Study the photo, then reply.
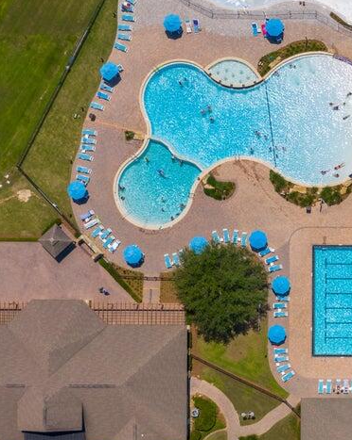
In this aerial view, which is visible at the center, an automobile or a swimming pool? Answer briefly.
swimming pool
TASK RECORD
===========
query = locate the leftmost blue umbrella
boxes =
[68,182,86,200]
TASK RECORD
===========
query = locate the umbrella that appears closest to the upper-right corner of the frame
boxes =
[265,19,283,37]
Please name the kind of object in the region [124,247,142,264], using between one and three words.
umbrella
